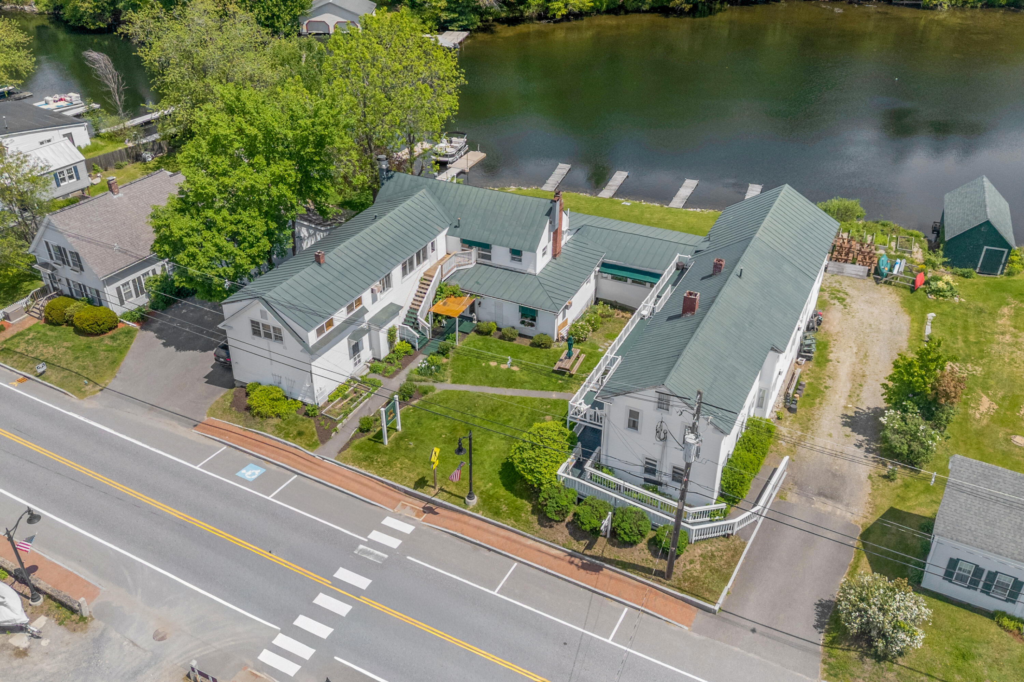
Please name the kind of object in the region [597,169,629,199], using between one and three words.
pier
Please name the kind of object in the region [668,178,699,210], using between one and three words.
pier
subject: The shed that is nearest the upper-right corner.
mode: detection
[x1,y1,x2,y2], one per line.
[932,175,1015,278]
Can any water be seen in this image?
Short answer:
Yes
